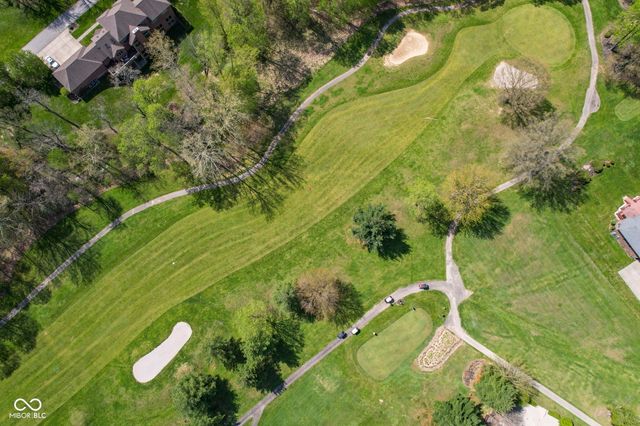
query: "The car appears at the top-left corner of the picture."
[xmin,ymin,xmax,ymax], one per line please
[42,54,59,69]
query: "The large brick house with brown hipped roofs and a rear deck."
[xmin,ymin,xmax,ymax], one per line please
[54,0,179,92]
